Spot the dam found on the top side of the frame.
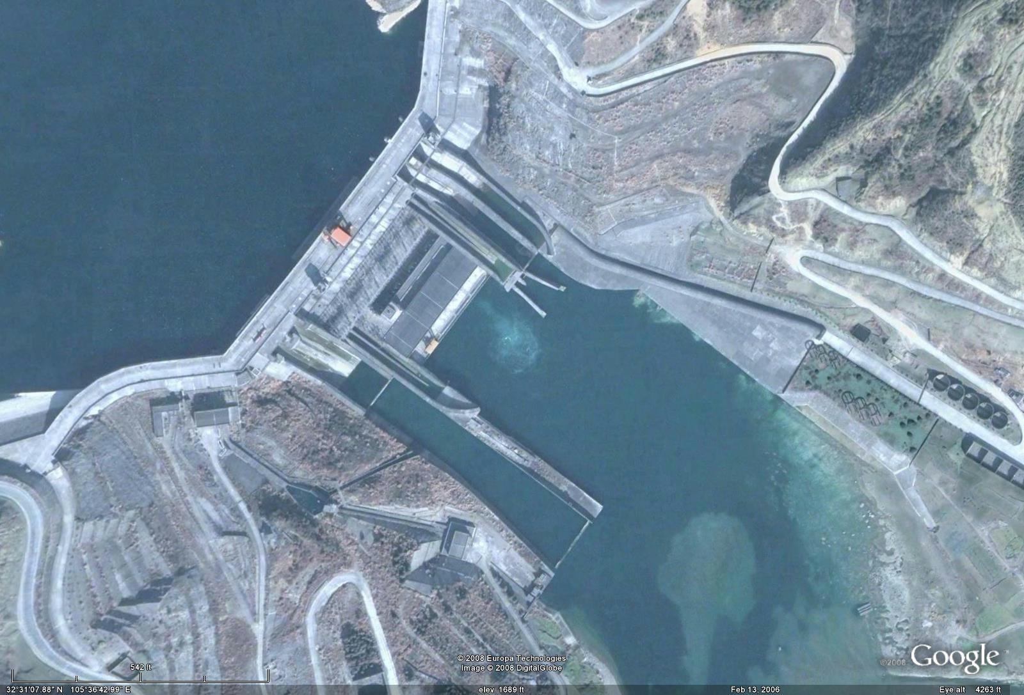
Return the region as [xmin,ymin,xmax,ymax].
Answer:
[44,0,488,455]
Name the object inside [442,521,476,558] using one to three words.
house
